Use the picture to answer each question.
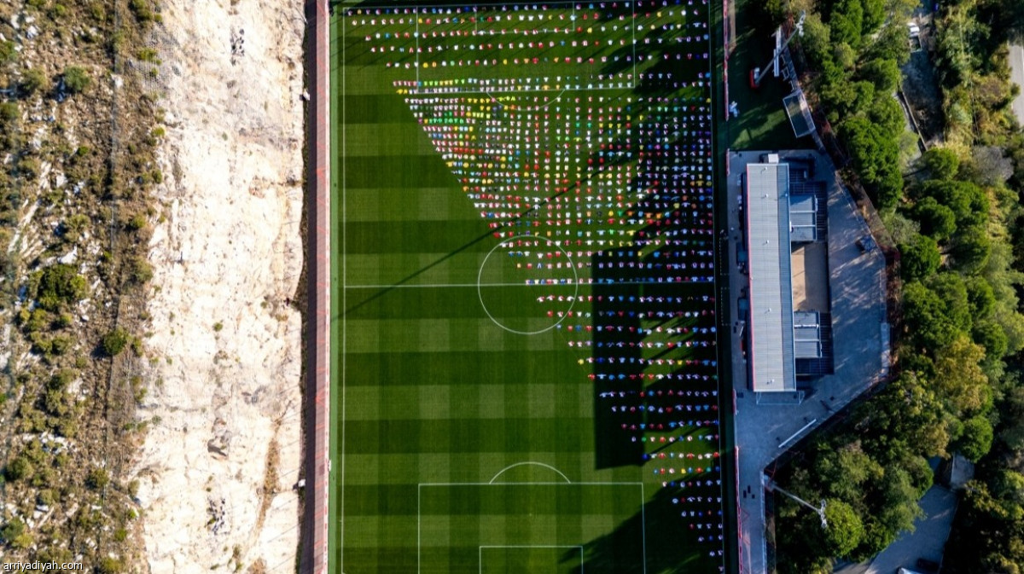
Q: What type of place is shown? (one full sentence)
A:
The picture captures a sports ground.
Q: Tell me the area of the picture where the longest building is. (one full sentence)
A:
The longest building sits in the right section of the image.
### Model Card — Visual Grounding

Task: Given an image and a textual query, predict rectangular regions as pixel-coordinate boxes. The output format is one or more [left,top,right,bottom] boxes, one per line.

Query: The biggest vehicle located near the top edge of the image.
[906,24,924,53]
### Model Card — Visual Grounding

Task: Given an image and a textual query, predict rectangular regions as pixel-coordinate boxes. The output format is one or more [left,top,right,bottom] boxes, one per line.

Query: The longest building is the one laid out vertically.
[743,152,795,394]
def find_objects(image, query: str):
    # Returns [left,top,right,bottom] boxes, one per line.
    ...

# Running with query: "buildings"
[743,152,795,394]
[943,450,978,491]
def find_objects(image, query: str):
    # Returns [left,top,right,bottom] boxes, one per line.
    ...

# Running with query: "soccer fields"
[329,0,741,574]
